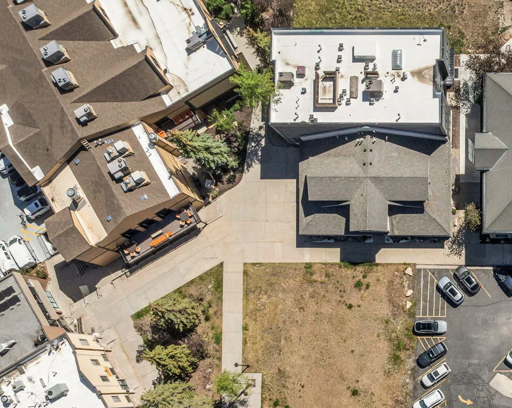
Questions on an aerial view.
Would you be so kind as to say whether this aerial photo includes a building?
Yes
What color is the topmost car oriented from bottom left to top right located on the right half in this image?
black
